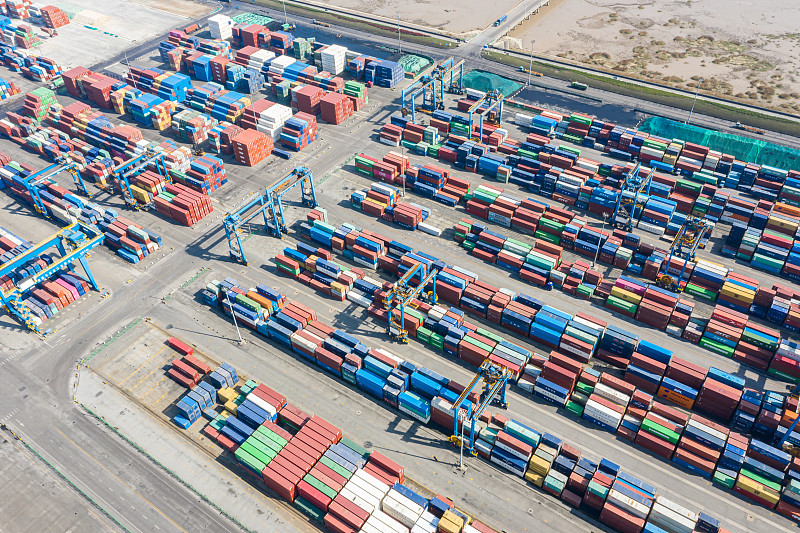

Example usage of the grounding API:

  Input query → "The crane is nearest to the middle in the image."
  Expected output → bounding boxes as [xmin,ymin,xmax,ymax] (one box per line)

[382,260,445,345]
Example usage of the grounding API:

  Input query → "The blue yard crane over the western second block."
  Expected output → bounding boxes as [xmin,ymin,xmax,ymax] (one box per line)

[20,153,91,217]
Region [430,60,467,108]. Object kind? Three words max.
container crane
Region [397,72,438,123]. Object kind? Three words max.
container crane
